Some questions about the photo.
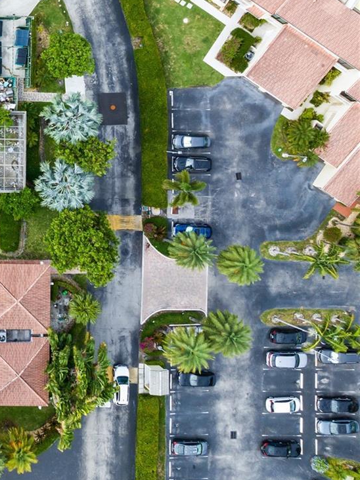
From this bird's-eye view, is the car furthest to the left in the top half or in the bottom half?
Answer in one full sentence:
It is in the bottom half that the car furthest to the left appears.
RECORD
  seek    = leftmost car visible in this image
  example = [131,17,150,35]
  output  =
[111,364,131,405]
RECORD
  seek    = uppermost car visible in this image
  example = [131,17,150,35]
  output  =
[172,132,209,150]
